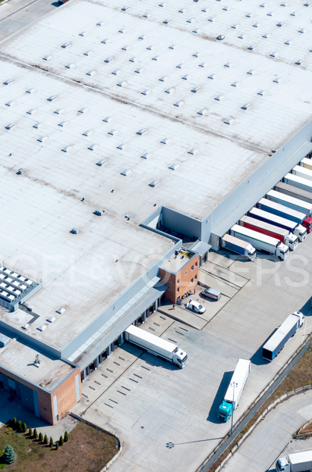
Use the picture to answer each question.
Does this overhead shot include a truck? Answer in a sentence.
Yes, the picture does show a truck.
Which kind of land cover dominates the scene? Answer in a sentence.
Most of the picture is covered by buildings.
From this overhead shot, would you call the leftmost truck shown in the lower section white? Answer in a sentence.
Yes, white is the color of the leftmost truck shown in the lower section.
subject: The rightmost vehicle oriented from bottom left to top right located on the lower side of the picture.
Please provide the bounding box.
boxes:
[261,311,304,363]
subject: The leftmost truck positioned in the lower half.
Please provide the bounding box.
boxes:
[121,328,191,368]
